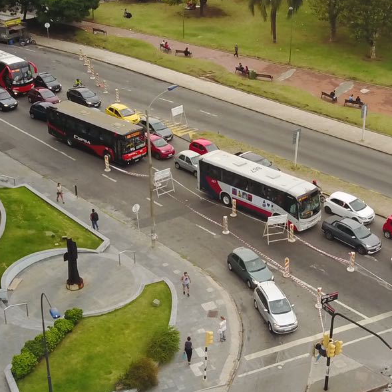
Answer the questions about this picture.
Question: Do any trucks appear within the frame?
Yes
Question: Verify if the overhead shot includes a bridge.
No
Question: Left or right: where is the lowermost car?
right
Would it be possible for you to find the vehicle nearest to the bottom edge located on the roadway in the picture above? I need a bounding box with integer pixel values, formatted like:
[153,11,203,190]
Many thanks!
[247,278,305,338]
